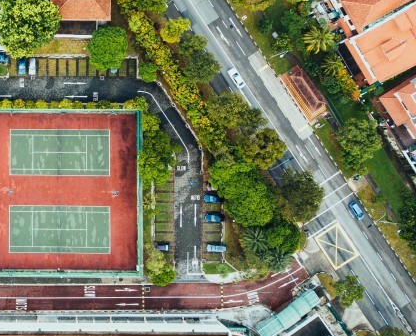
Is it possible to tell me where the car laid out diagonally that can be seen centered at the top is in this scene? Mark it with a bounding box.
[228,69,245,88]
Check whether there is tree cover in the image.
Yes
